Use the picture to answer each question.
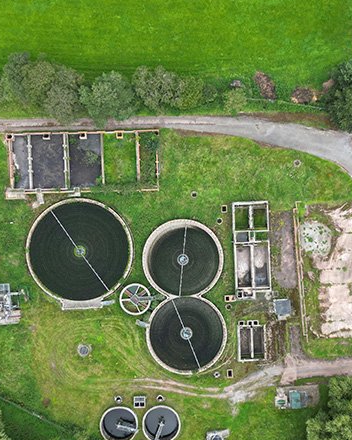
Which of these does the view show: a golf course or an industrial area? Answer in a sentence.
The area seen from above is an industrial area.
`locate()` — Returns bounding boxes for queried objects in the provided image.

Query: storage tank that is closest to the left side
[100,405,139,440]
